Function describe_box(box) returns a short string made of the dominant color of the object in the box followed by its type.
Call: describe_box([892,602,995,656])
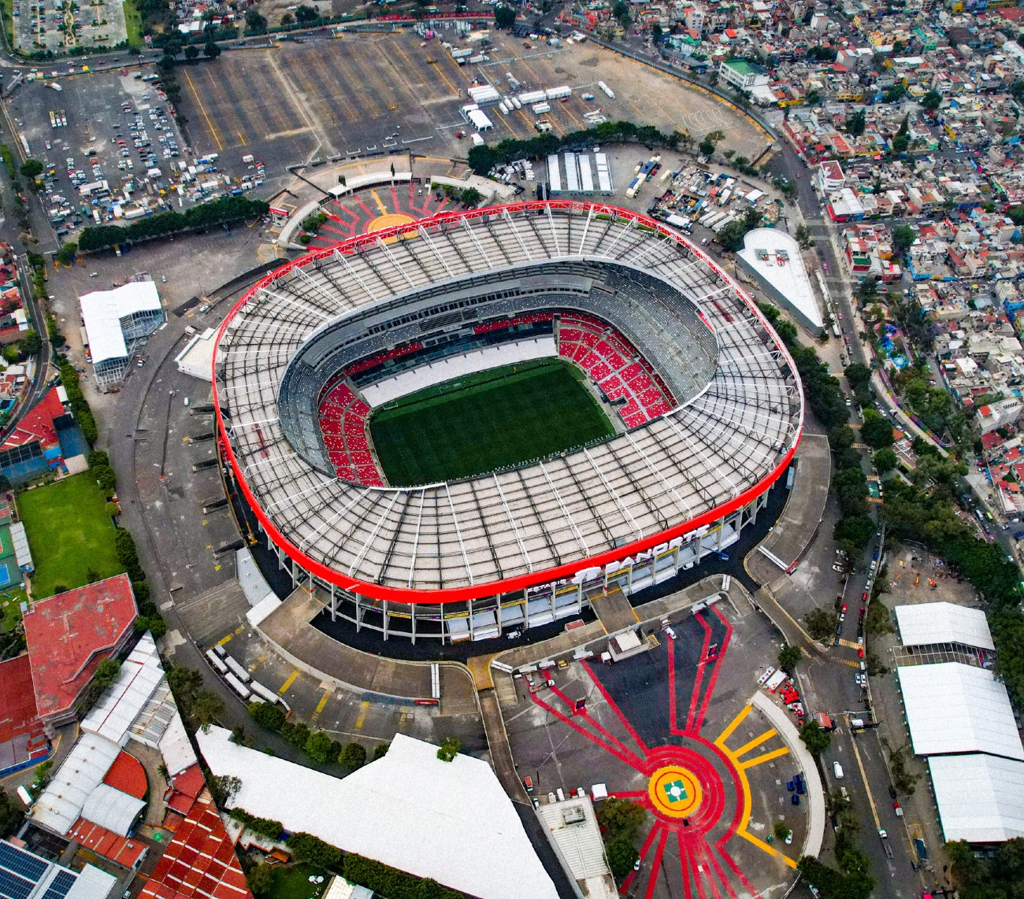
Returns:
white tent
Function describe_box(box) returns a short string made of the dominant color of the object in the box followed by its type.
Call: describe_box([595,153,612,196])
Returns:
white tent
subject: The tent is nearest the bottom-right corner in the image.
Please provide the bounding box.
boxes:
[924,754,1024,848]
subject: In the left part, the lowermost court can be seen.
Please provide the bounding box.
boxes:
[0,524,21,588]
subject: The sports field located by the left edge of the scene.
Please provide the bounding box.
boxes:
[16,469,126,604]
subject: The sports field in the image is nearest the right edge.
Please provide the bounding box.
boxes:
[367,367,614,488]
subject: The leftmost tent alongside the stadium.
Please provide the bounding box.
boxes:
[80,281,167,382]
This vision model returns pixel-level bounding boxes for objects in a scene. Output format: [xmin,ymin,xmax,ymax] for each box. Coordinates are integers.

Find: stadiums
[213,201,805,643]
